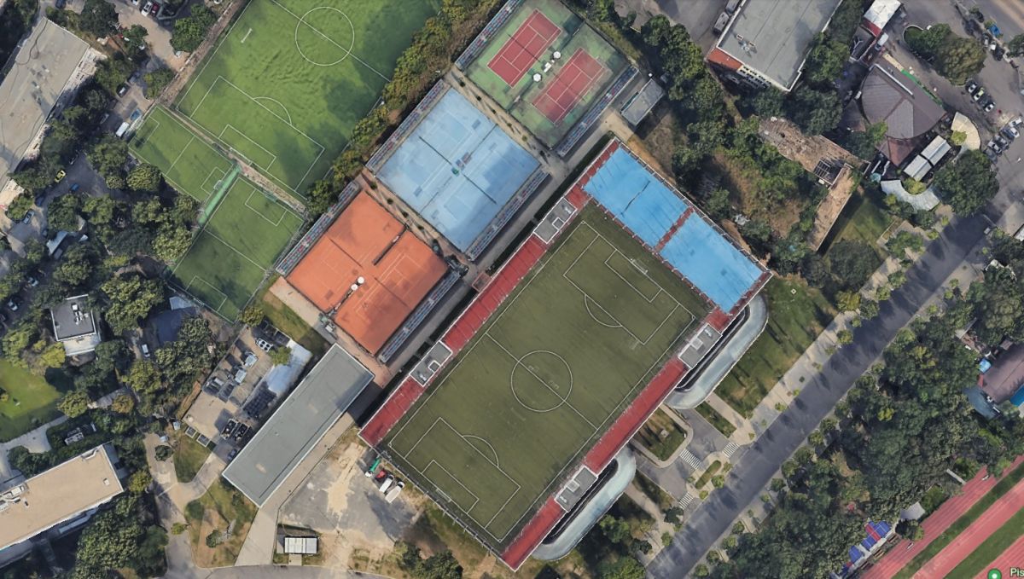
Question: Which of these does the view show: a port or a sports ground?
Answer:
sports ground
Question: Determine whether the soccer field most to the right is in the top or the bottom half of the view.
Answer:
bottom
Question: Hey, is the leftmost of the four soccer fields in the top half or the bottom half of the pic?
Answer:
top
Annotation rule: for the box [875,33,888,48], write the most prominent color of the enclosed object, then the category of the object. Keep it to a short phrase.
white vehicle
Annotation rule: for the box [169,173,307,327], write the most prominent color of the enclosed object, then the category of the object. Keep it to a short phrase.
green soccer field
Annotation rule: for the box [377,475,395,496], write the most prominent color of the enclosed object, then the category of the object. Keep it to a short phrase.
white vehicle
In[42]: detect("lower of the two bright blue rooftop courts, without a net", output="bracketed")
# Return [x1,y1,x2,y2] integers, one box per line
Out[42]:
[661,211,762,312]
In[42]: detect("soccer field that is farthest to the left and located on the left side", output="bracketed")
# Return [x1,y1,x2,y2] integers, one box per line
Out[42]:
[128,101,235,207]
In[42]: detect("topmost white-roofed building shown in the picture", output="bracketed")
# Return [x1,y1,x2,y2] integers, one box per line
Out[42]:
[860,0,901,33]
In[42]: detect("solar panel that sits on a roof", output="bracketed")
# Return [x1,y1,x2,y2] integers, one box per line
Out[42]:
[244,383,276,417]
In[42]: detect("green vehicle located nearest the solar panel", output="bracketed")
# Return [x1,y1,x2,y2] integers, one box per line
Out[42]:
[366,457,381,476]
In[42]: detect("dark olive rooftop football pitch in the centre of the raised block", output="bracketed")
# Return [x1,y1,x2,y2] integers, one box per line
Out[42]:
[379,201,715,552]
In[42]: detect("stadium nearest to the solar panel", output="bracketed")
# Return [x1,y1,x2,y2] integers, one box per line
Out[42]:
[359,140,773,571]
